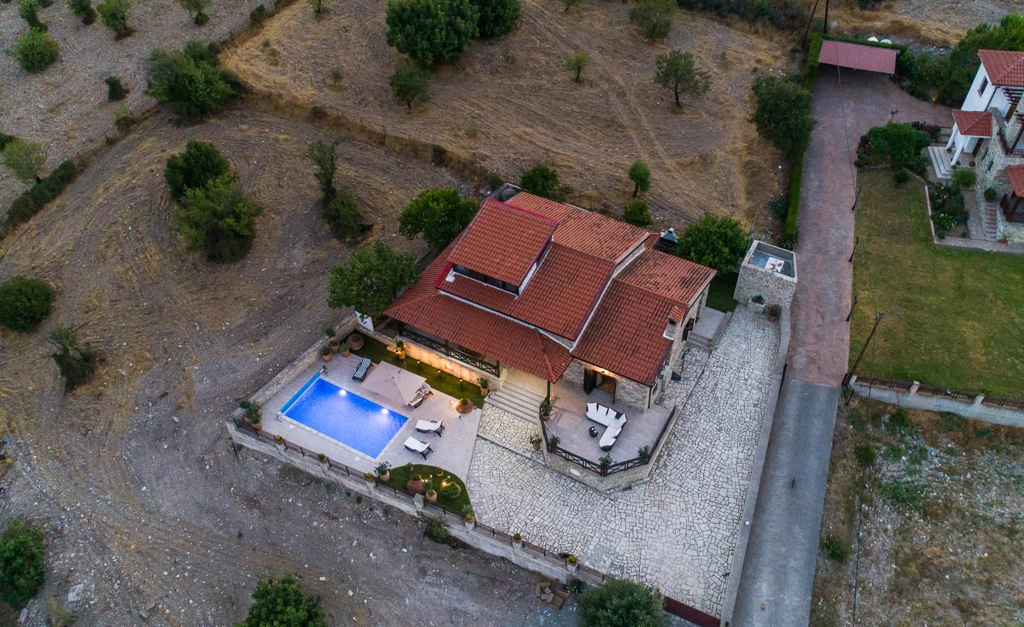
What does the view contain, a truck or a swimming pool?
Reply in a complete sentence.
It is a swimming pool that can be seen here.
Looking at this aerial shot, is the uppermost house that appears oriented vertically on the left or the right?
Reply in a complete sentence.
The uppermost house that appears oriented vertically sits on the right side.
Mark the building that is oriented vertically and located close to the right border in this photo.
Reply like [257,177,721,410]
[931,52,1024,246]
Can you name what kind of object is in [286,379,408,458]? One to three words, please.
swimming pool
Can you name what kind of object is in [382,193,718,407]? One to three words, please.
house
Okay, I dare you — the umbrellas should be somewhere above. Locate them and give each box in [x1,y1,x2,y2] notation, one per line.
[362,357,427,406]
